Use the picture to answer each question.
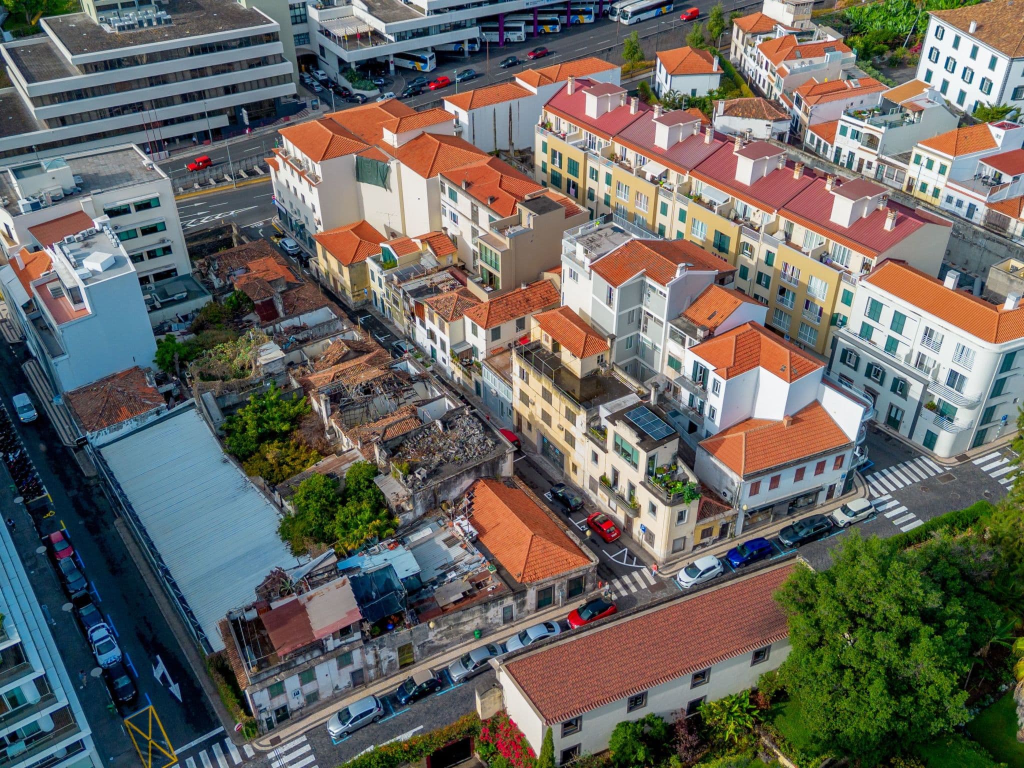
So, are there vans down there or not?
Yes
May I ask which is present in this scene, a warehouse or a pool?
warehouse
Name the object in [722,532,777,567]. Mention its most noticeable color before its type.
blue car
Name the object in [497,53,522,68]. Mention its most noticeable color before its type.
black car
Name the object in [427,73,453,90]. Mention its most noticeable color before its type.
red car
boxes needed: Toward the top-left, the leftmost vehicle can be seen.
[183,149,217,168]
